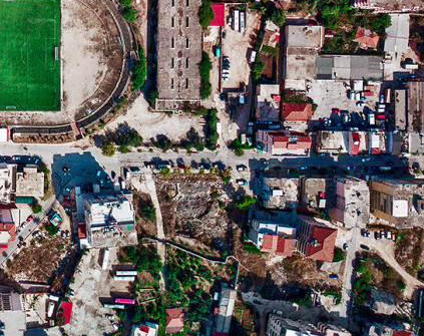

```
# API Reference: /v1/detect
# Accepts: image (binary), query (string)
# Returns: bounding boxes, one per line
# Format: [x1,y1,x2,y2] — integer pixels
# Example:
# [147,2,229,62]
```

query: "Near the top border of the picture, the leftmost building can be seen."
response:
[153,0,203,98]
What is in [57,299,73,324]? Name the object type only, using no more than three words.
shed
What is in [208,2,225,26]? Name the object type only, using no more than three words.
shed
